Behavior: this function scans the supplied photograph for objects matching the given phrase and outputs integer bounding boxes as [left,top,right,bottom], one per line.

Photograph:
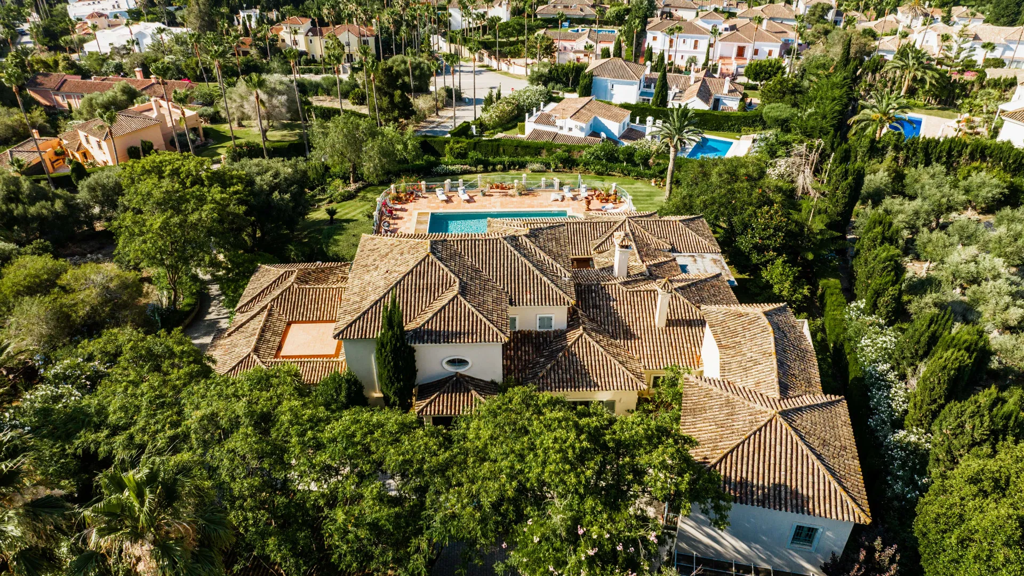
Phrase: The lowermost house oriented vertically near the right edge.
[991,81,1024,153]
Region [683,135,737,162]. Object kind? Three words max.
swimming pool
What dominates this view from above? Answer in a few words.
trees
